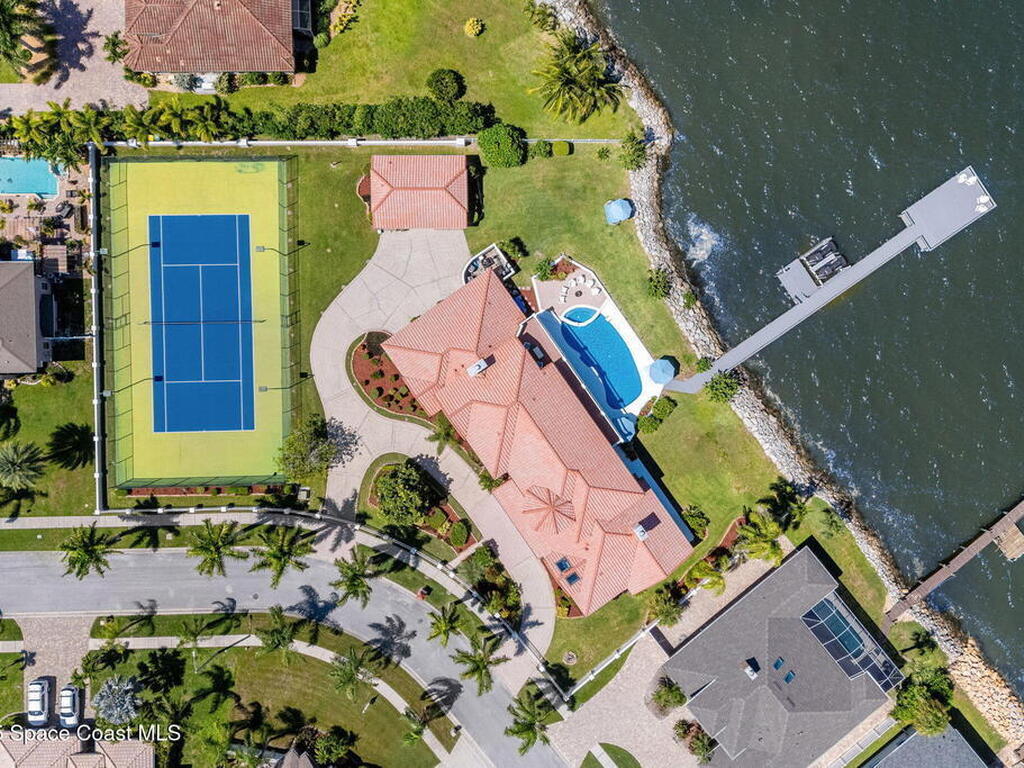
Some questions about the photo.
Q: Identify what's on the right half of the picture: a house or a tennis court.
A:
house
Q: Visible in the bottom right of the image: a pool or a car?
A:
pool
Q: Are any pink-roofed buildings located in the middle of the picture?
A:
Yes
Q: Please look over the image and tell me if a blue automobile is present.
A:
No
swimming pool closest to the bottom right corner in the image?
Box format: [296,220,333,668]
[811,598,865,659]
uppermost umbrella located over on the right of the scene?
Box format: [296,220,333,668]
[607,200,632,225]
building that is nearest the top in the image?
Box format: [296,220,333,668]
[123,0,296,79]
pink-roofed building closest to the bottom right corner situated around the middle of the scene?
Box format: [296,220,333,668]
[384,268,693,617]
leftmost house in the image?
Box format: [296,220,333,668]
[0,262,65,373]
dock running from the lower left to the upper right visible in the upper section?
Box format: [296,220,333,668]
[664,166,996,393]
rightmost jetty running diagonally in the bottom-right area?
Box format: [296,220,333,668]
[879,500,1024,632]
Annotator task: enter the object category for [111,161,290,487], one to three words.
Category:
tennis court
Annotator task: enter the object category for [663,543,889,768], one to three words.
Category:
house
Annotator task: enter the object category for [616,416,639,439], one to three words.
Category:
umbrella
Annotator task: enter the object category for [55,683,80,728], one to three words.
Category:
car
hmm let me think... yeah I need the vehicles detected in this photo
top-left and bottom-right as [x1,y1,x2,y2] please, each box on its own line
[25,678,50,726]
[55,683,80,728]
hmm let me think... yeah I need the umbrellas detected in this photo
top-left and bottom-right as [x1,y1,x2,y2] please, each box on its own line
[650,359,674,383]
[616,416,639,439]
[607,200,632,225]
